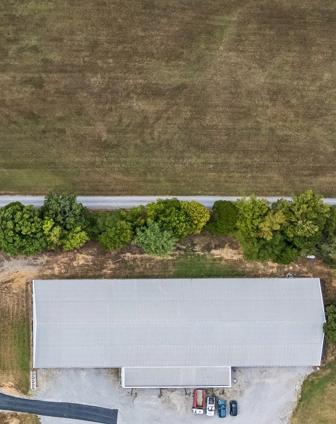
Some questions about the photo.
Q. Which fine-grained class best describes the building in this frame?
warehouse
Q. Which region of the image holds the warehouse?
bottom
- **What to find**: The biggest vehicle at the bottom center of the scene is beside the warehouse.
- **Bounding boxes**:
[192,390,206,414]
